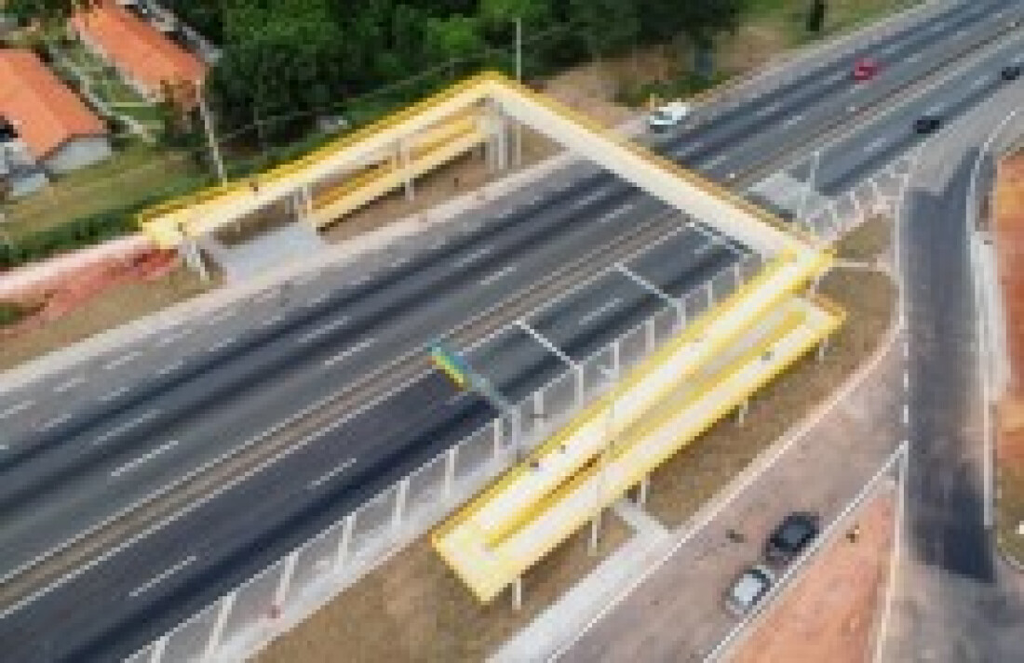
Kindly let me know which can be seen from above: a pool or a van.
van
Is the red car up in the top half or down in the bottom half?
top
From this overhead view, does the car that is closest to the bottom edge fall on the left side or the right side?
right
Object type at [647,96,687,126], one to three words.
van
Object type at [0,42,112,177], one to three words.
house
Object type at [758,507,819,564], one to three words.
car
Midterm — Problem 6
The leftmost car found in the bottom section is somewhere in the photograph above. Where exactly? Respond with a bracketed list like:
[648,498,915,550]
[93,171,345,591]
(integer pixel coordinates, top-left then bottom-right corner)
[714,554,775,612]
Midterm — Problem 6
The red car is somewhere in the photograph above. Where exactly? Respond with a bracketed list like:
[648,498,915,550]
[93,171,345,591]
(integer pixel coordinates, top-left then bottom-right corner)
[850,57,878,77]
